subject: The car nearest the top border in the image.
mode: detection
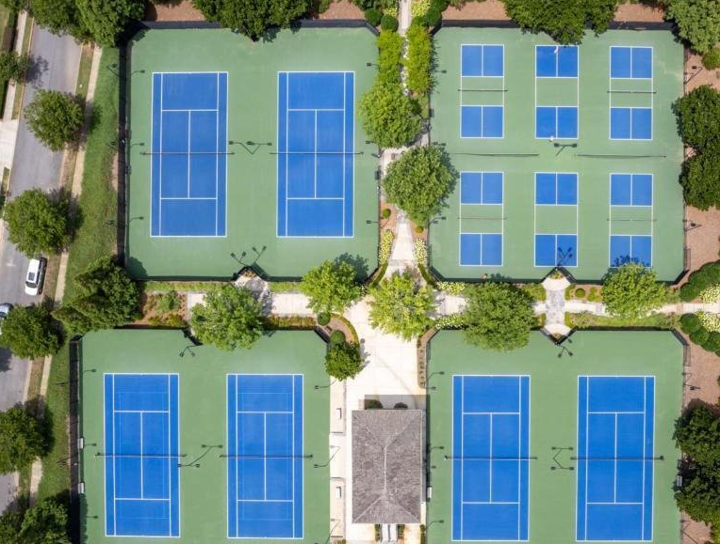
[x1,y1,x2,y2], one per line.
[21,257,43,295]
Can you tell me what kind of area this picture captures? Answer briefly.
sports ground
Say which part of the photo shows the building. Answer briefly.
bottom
